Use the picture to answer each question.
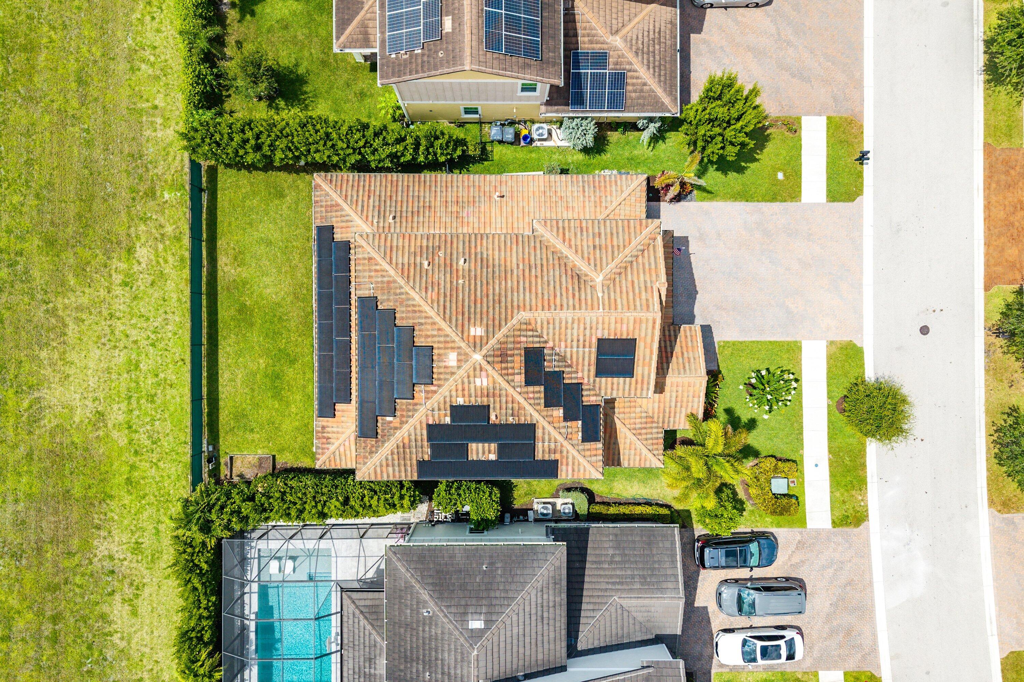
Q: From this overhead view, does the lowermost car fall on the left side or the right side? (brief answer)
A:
right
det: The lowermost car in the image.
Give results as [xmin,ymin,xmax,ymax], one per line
[712,626,801,671]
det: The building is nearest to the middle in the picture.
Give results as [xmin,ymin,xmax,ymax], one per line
[312,173,708,482]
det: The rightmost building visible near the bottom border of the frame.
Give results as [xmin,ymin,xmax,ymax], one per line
[340,521,689,682]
